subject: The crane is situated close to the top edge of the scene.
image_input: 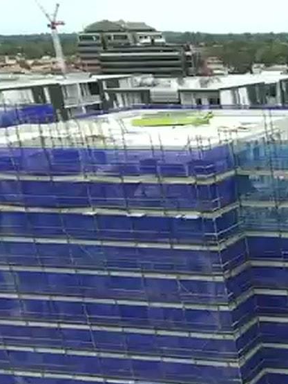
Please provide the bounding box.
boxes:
[35,0,70,83]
